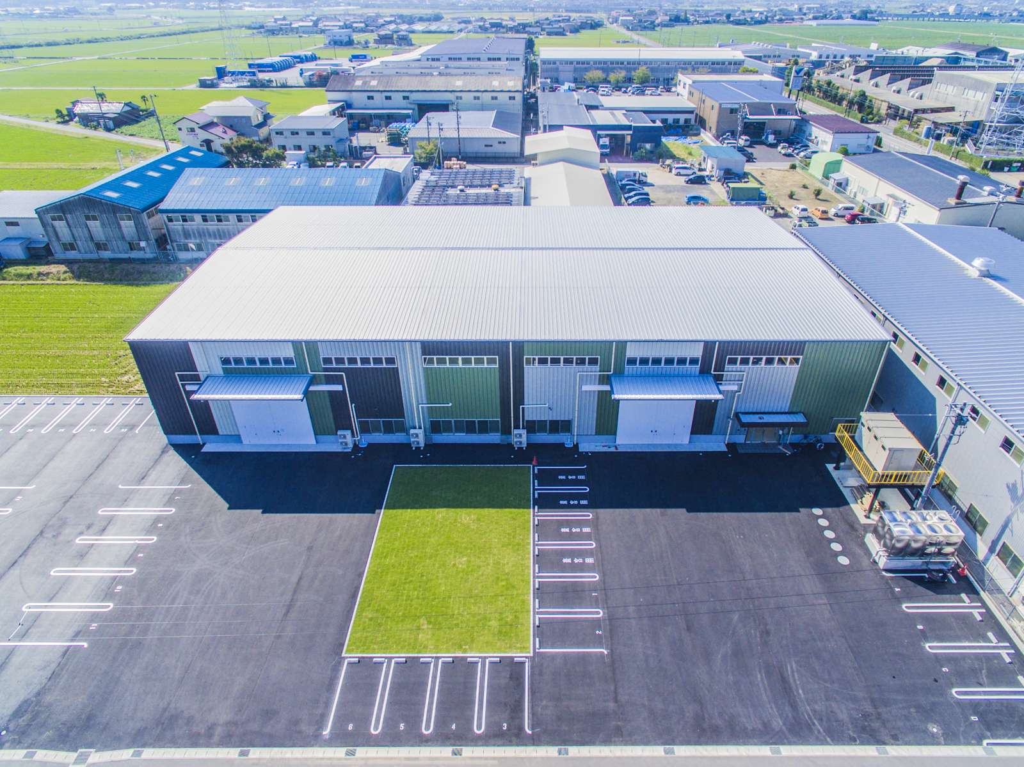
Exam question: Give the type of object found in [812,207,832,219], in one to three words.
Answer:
vehicle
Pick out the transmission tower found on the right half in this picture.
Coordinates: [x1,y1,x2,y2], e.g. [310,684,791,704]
[956,2,1024,153]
